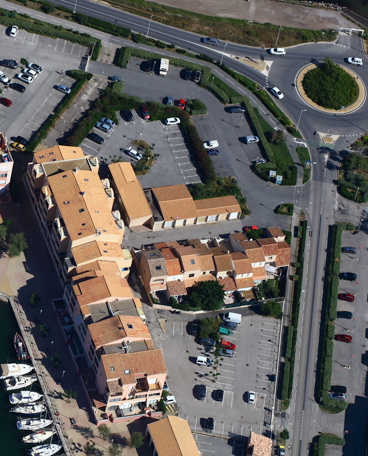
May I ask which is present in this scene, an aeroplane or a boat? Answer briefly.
boat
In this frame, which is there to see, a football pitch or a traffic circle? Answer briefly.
traffic circle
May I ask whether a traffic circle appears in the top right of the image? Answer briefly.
Yes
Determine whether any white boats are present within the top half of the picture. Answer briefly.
No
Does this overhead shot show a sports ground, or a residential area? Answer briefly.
residential area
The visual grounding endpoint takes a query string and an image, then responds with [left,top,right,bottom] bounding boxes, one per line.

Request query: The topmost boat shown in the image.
[13,332,27,361]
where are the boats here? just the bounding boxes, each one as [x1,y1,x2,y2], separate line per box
[9,383,46,418]
[13,332,27,361]
[15,393,53,431]
[7,392,43,405]
[20,407,57,445]
[1,375,37,391]
[0,361,34,379]
[27,426,62,456]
